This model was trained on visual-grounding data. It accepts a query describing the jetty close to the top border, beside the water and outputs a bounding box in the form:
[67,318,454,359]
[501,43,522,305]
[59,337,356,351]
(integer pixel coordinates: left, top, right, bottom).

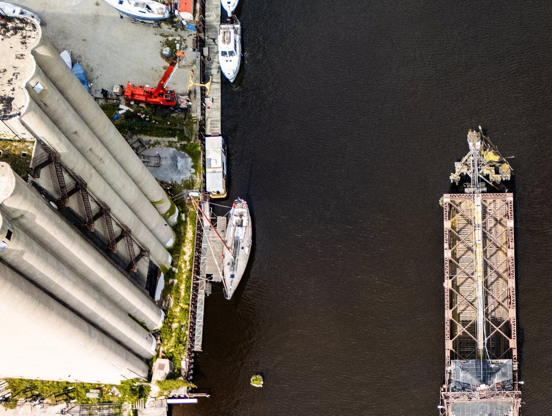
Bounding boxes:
[206,0,222,126]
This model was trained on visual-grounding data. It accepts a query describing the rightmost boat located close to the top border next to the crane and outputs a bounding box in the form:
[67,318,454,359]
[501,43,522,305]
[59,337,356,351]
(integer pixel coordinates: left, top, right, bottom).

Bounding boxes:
[218,9,239,82]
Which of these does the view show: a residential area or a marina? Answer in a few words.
marina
